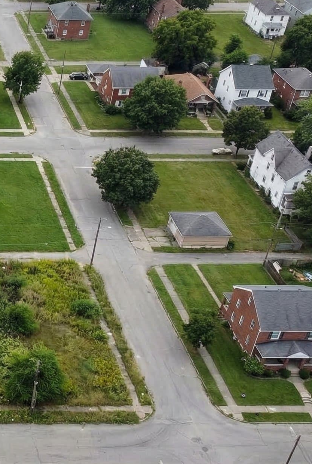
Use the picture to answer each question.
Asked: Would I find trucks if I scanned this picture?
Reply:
No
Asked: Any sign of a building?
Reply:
Yes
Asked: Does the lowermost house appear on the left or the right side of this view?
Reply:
right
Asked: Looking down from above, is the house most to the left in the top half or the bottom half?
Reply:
top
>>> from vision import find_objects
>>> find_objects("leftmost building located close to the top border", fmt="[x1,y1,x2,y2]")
[42,0,94,38]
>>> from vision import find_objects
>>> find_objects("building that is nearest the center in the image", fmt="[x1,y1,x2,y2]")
[168,213,233,247]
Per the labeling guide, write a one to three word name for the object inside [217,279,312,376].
house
